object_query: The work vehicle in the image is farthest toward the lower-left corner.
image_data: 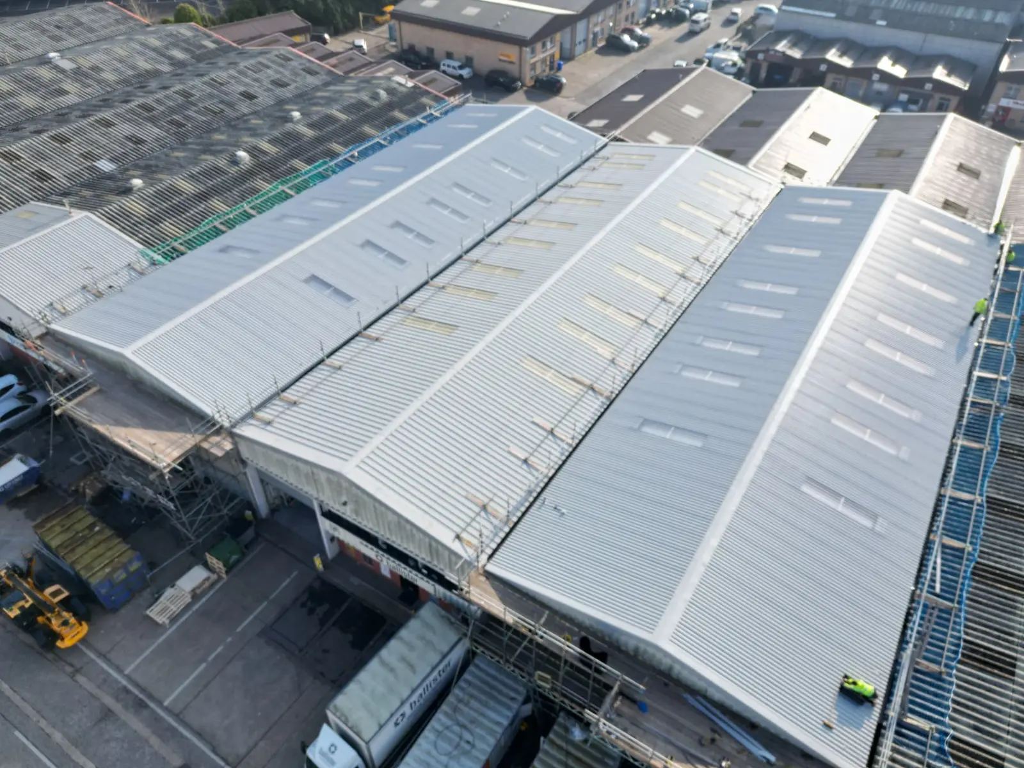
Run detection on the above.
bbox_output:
[0,560,100,659]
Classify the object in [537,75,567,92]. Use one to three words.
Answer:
car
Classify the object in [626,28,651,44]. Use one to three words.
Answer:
car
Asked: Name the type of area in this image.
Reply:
industrial area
